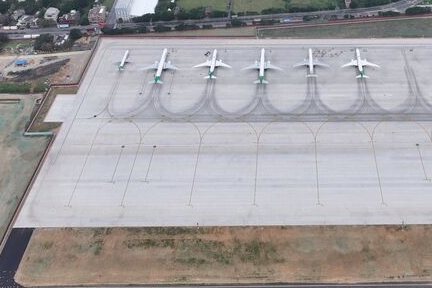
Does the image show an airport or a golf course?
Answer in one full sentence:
This looks like an airport.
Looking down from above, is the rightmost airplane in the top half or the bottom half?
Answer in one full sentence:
The top half of the photo is where the rightmost airplane is.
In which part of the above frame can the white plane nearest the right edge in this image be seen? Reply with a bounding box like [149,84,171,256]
[341,49,380,78]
